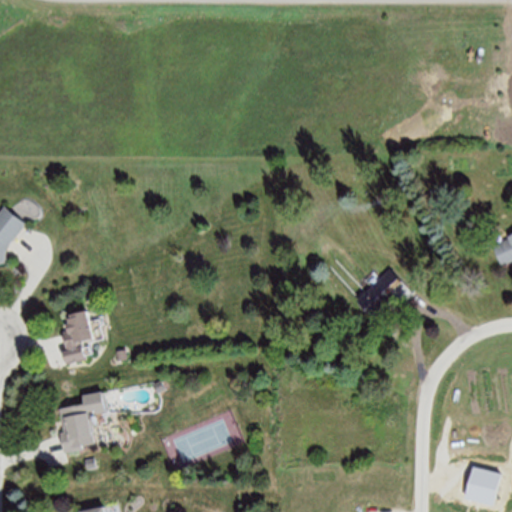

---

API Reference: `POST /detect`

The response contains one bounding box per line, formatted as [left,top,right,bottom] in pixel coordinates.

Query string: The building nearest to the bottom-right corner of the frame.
[465,468,501,507]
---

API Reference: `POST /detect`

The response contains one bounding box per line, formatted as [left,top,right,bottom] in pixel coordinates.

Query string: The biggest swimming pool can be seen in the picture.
[121,390,150,404]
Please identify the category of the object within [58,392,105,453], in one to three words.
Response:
house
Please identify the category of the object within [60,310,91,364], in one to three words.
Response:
house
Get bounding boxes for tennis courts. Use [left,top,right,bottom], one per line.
[162,410,244,472]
